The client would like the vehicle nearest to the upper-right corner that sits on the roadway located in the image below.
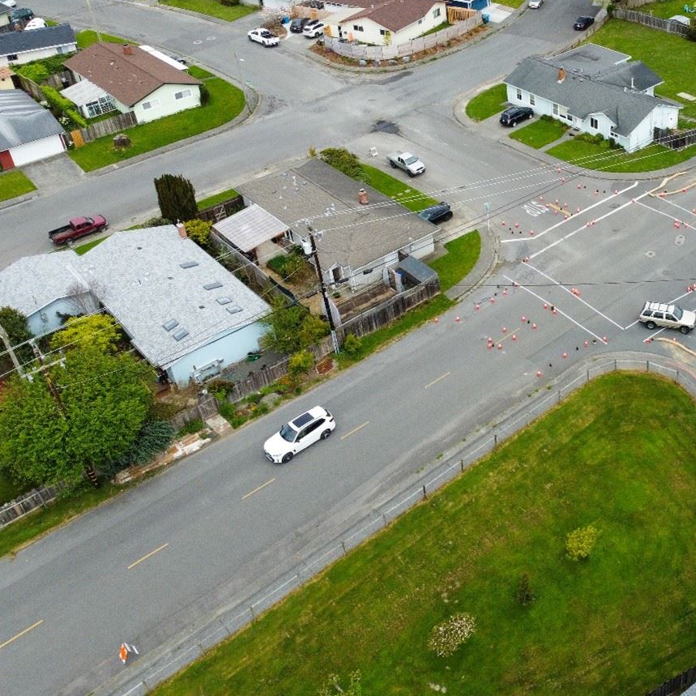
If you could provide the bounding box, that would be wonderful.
[570,11,596,27]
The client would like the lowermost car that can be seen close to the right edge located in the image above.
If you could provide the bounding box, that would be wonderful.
[638,300,696,335]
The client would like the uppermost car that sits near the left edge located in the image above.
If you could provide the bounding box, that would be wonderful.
[9,6,37,20]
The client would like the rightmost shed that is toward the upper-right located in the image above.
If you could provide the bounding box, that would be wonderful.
[668,16,695,36]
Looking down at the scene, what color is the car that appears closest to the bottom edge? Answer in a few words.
white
